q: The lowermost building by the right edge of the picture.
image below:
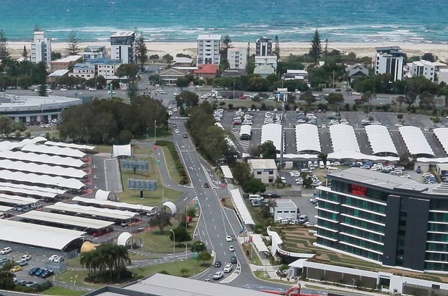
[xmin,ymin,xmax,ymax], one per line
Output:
[314,173,448,276]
